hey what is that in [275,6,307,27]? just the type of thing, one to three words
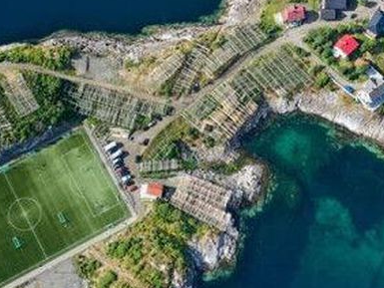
house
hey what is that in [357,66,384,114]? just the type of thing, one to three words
house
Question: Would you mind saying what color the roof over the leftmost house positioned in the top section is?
red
